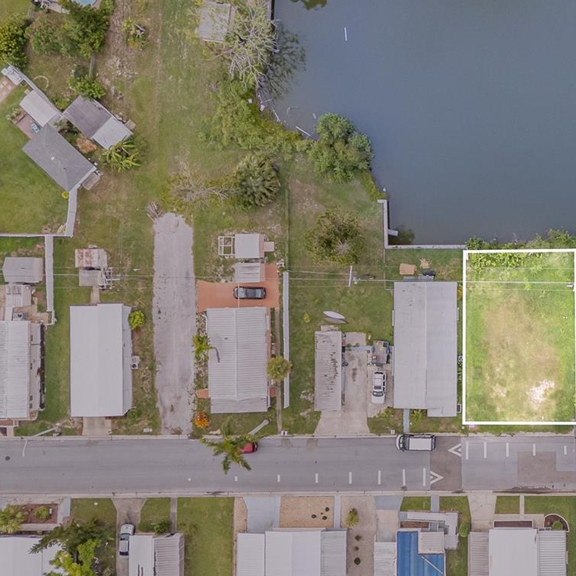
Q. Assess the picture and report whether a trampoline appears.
No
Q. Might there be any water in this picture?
Yes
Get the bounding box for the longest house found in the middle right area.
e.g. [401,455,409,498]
[394,276,460,416]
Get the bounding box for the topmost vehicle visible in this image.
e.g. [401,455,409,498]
[233,284,267,300]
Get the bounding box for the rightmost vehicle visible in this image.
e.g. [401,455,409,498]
[397,433,437,451]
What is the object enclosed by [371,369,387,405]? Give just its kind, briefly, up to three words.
vehicle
